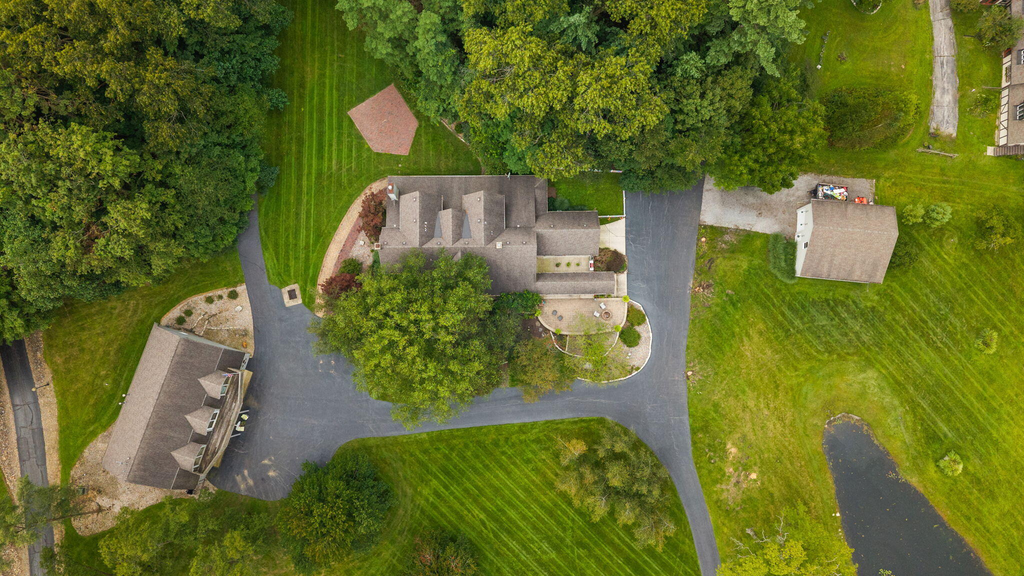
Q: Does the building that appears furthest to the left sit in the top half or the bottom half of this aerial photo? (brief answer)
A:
bottom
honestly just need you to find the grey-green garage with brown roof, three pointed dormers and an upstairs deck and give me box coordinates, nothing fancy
[104,323,254,489]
